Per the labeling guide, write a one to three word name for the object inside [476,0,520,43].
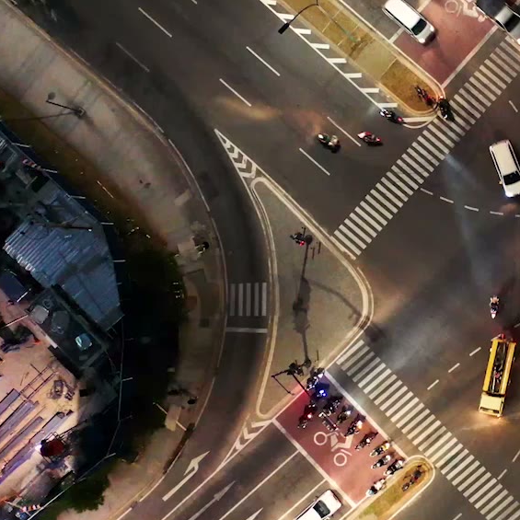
car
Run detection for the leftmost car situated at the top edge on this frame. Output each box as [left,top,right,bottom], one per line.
[382,0,434,43]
